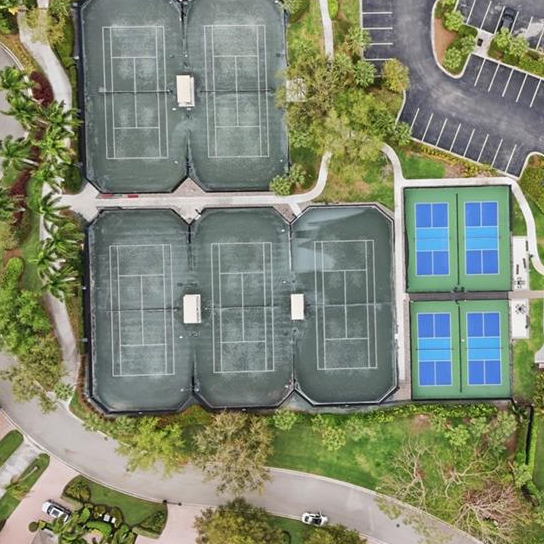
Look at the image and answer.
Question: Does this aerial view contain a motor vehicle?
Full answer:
Yes, you can see a motor vehicle in this photo.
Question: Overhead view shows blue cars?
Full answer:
No, the photo shows no blue car.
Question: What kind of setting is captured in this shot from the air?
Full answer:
The area seen from above is a sports ground.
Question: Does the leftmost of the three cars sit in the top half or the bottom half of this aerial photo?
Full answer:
It is in the bottom half that the leftmost of the three cars appears.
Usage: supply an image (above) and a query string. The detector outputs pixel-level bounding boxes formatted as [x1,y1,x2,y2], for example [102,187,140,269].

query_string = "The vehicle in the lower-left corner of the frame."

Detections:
[42,499,71,521]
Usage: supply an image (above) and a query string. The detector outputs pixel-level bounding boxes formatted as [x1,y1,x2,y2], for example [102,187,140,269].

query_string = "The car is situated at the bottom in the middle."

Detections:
[301,511,328,526]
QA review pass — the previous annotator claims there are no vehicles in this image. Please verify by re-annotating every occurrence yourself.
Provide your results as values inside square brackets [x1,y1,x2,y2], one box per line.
[497,6,513,33]
[42,499,71,521]
[301,511,328,526]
